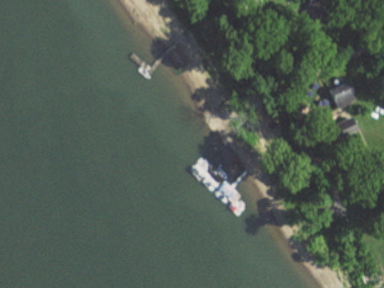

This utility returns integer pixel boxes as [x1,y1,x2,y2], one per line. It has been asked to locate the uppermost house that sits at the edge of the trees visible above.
[332,82,358,108]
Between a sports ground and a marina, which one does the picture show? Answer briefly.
marina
